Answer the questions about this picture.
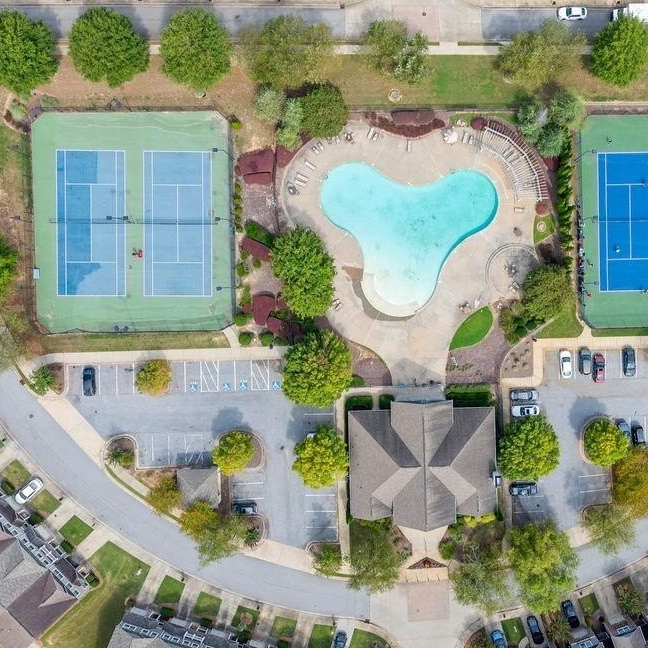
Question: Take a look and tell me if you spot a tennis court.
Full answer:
Yes, the image includes a tennis court.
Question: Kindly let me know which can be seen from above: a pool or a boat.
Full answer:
I can see a pool in this picture.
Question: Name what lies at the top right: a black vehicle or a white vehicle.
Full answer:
Visible at the top right is a white vehicle.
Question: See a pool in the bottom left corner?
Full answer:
No, the scene shows no pool in the bottom left corner.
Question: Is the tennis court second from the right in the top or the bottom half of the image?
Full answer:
It is in the top half that the tennis court second from the right appears.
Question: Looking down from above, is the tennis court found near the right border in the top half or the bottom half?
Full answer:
The tennis court found near the right border sits in the top half of the picture.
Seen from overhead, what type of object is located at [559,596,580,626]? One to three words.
car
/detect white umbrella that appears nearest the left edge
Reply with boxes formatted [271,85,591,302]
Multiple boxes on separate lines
[442,128,459,145]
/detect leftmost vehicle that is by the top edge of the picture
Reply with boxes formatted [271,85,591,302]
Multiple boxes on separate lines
[556,6,587,22]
